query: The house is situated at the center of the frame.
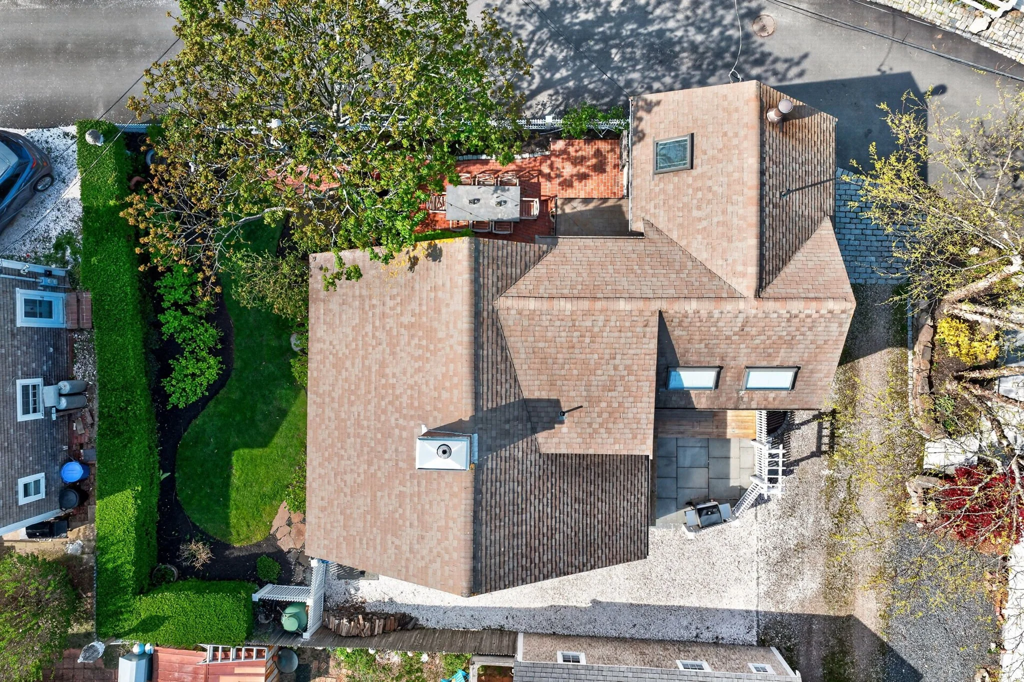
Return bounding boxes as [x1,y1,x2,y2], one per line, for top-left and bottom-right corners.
[305,69,865,597]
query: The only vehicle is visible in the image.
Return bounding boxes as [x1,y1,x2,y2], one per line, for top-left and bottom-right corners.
[0,130,58,244]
